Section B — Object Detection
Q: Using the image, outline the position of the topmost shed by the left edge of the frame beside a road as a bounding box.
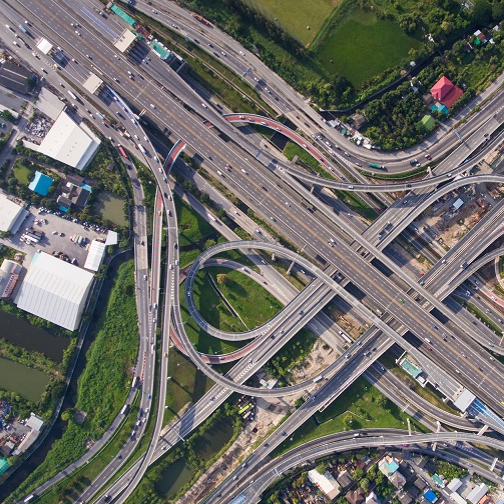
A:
[1,65,42,95]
